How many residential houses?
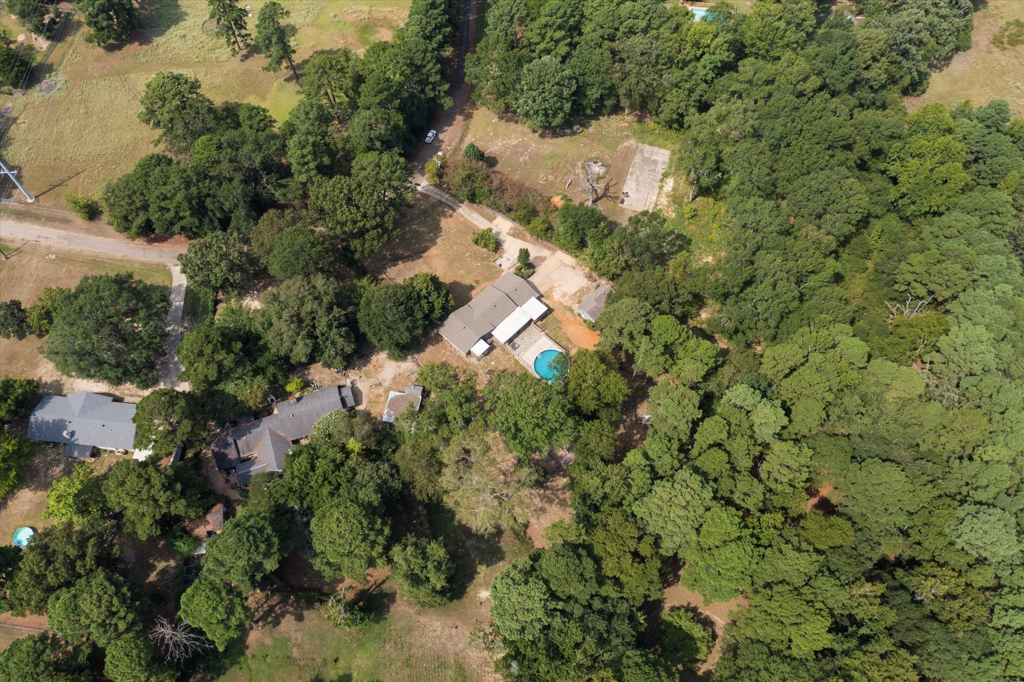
3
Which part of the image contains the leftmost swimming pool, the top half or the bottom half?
bottom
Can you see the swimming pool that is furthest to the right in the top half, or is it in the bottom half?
top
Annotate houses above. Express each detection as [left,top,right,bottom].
[26,391,142,460]
[211,386,346,488]
[437,271,538,359]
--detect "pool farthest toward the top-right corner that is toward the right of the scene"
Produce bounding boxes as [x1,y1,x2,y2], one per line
[682,1,733,31]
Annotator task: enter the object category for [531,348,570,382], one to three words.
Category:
swimming pool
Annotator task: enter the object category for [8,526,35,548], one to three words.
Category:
swimming pool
